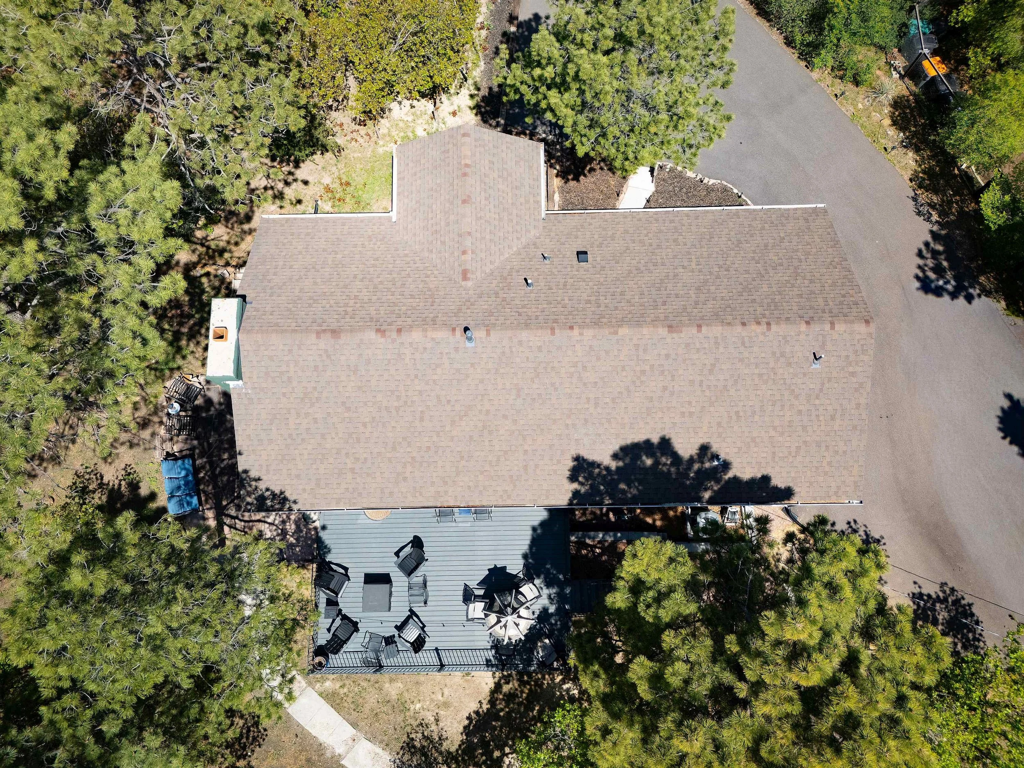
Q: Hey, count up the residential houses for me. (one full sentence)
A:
In total, there is 1 residential house in the scene.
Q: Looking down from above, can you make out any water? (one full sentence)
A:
No, there's no water in this view.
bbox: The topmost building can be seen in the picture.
[207,123,874,513]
